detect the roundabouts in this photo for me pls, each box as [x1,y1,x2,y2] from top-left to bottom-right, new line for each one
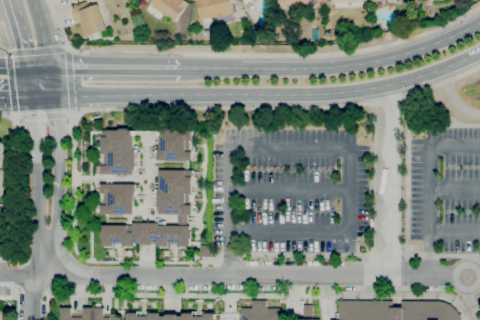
[452,262,480,294]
